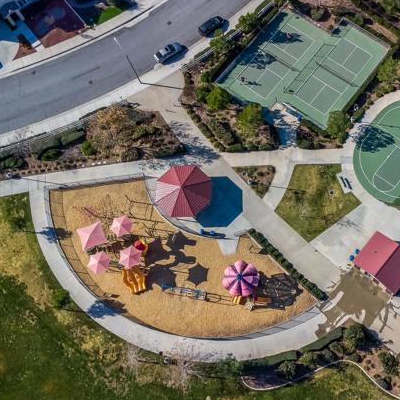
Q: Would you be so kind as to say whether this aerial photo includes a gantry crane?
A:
No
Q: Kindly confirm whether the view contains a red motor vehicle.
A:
No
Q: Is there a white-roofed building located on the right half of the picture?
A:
No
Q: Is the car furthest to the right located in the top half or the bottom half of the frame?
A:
top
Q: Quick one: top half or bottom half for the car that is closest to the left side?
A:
top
